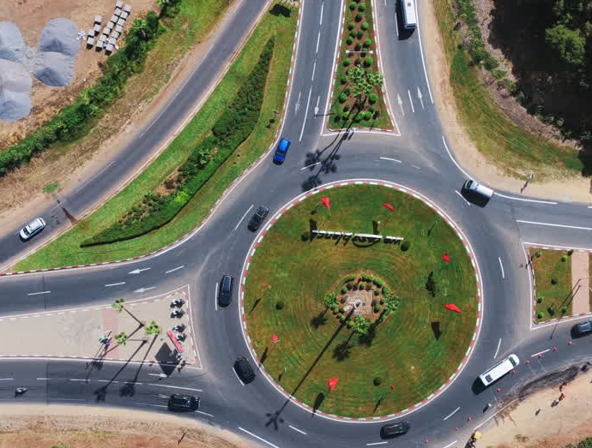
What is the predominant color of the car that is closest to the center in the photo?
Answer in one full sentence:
The car that is closest to the center is black.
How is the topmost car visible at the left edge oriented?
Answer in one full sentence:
The topmost car visible at the left edge is laid out at an angle.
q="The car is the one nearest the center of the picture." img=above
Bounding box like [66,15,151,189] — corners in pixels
[248,206,268,233]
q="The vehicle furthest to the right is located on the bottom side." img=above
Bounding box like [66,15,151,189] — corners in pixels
[572,319,592,337]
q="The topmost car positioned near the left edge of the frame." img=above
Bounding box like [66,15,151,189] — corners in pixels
[19,218,48,240]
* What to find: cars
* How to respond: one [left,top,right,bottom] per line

[572,319,592,337]
[169,397,199,409]
[235,356,254,384]
[380,421,409,437]
[19,218,48,240]
[273,137,291,165]
[248,206,268,233]
[220,274,232,307]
